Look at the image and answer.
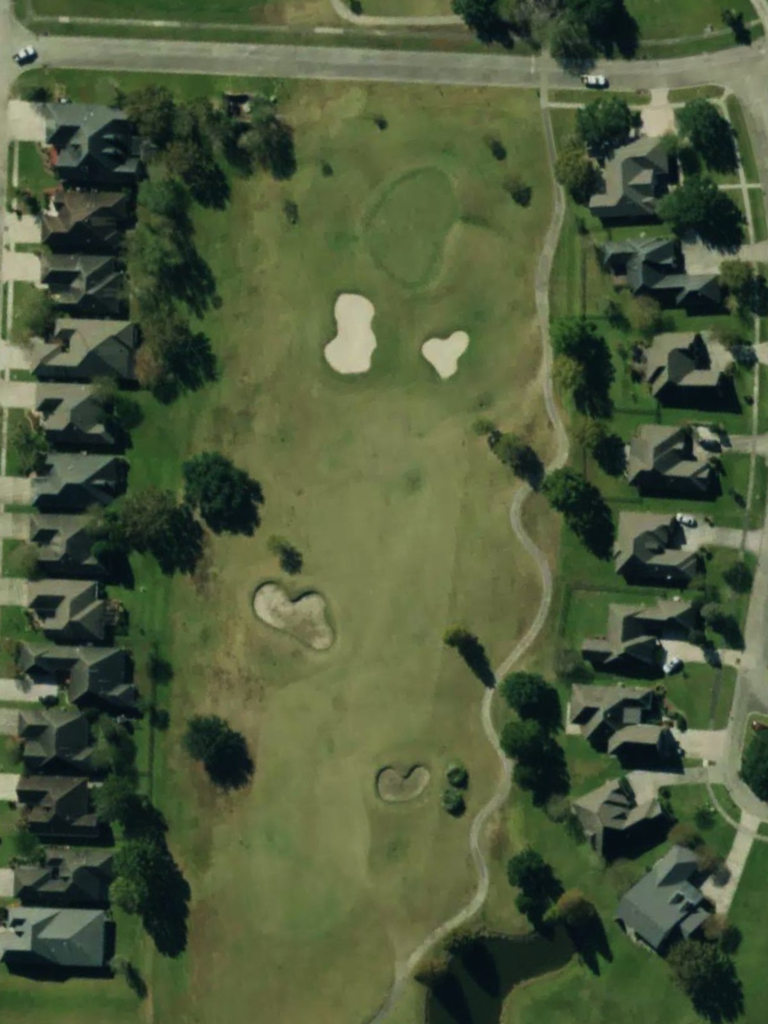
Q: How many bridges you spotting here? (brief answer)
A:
0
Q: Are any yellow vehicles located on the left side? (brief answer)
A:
No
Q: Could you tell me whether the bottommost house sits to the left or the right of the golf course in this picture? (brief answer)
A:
to the left of it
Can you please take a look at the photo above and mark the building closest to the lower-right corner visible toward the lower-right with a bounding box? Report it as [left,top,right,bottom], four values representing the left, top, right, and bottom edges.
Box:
[609,844,721,955]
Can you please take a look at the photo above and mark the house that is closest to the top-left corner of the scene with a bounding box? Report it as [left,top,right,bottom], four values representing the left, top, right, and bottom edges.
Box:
[45,103,137,185]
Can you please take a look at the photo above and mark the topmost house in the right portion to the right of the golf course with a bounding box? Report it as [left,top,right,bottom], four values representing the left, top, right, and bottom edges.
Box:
[589,135,669,219]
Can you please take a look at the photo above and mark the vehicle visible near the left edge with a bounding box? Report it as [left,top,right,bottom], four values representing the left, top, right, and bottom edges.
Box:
[11,46,36,64]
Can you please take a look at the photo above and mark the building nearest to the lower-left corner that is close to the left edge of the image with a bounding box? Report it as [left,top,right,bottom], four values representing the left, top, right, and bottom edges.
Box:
[0,908,104,974]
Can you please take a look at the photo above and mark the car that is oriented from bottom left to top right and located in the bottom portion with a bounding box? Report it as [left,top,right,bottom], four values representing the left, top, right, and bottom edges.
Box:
[661,655,681,673]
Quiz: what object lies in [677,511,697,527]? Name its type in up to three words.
car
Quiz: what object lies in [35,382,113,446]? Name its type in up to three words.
house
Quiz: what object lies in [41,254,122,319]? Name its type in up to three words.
house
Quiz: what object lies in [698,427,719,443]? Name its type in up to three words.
car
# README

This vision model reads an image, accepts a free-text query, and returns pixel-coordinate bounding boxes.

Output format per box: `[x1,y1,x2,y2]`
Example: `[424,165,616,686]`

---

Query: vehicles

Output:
[582,75,607,85]
[677,511,697,527]
[698,427,719,443]
[11,46,36,64]
[661,655,681,673]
